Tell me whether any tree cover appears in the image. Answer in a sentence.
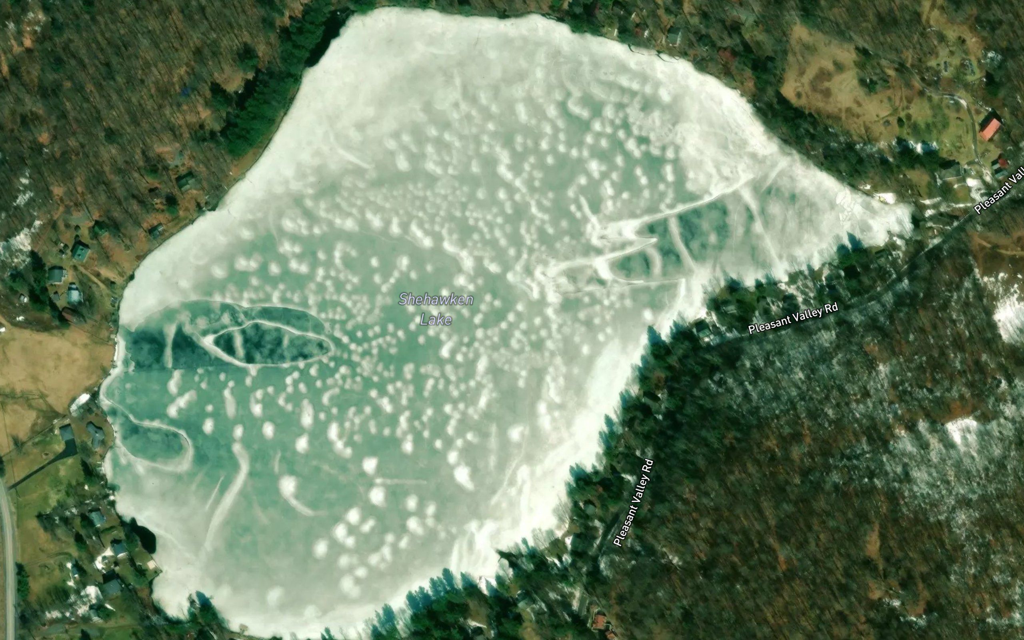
Yes, tree cover shows up in the scene.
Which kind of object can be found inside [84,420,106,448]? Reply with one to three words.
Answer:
house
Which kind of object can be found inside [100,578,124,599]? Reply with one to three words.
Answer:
house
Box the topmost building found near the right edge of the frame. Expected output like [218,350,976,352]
[973,113,1001,141]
